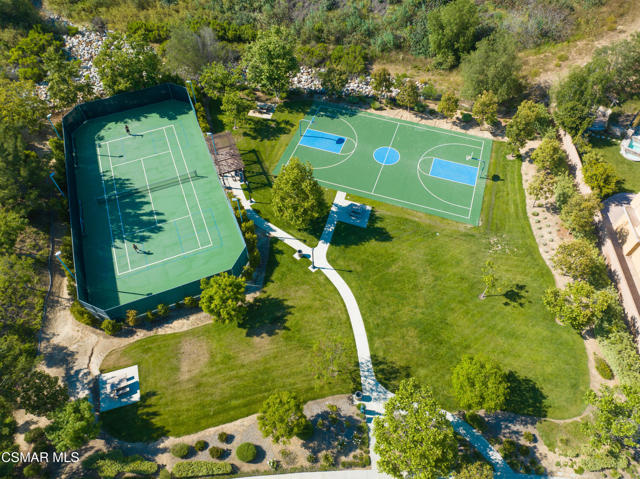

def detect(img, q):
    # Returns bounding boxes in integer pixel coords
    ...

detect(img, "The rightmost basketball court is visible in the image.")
[271,100,493,224]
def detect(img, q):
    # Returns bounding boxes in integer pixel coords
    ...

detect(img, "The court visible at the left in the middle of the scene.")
[72,100,246,325]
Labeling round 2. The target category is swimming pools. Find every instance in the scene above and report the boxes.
[617,129,640,164]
